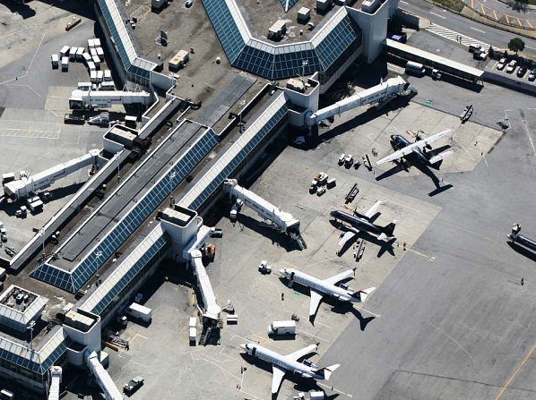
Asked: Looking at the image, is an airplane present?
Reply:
Yes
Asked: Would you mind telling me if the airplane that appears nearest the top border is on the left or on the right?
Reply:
right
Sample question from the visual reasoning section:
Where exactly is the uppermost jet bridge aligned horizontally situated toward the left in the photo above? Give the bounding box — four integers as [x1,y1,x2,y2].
[64,88,150,117]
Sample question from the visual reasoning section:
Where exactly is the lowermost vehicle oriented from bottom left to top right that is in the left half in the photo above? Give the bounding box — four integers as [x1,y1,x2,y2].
[123,377,144,393]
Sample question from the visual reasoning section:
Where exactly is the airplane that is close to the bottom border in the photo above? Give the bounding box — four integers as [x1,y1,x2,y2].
[242,343,339,394]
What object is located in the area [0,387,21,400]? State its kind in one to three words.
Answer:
vehicle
